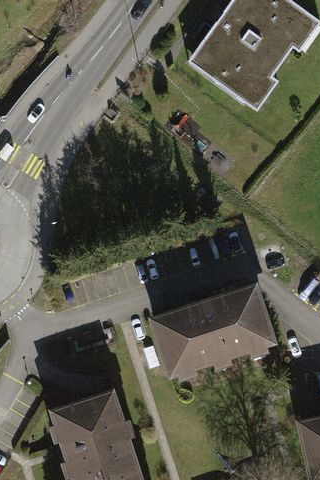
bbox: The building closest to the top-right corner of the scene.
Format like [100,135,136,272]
[189,0,320,114]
